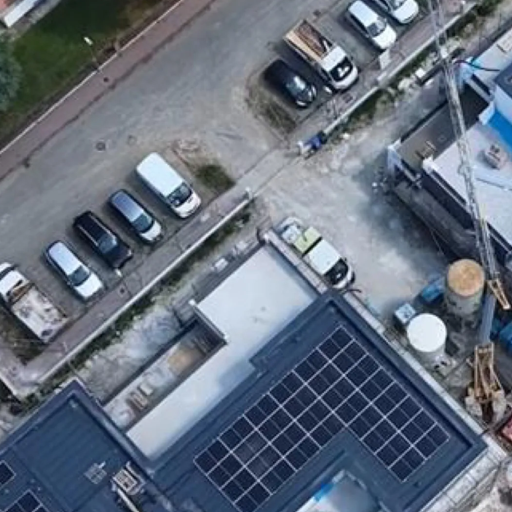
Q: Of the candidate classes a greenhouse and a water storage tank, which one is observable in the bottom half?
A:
water storage tank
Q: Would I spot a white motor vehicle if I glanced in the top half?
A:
Yes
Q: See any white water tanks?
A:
Yes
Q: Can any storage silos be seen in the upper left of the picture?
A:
No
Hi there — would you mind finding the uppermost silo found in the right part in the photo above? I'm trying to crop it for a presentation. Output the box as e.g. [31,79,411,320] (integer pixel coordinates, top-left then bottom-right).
[447,260,485,308]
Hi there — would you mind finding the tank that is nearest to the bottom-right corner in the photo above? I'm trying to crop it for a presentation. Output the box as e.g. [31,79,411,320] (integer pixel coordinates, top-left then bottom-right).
[407,314,447,359]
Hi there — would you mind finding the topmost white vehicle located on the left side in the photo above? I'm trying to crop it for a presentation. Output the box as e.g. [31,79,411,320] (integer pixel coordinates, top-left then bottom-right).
[135,150,202,218]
